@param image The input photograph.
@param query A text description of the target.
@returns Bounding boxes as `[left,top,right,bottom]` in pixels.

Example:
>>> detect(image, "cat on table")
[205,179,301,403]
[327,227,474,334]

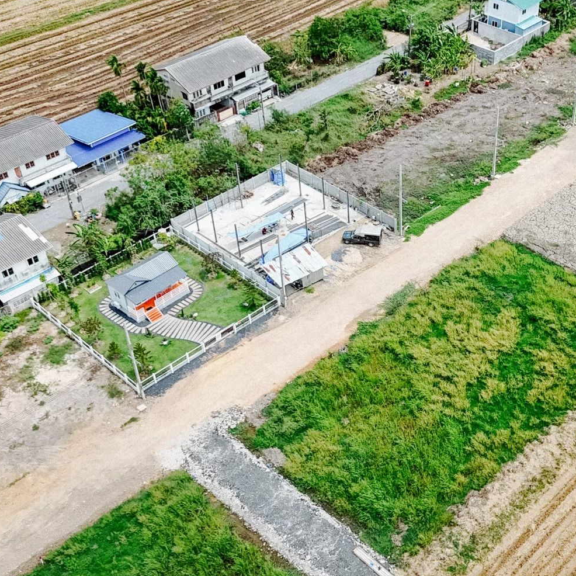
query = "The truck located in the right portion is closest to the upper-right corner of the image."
[338,224,382,247]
